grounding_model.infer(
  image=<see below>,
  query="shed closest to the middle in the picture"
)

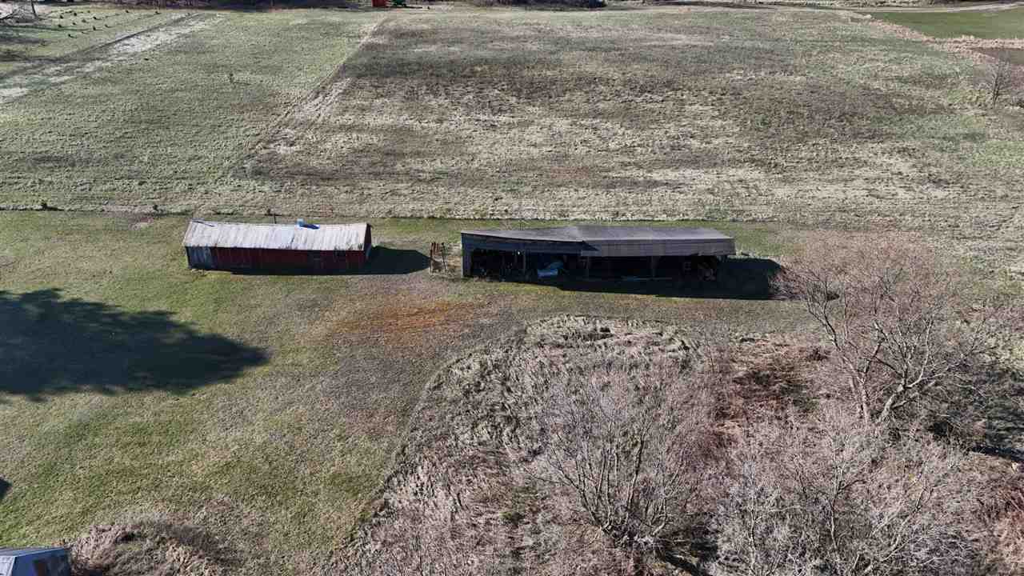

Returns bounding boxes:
[458,224,736,282]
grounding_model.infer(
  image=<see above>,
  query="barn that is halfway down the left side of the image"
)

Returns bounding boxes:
[178,204,378,271]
